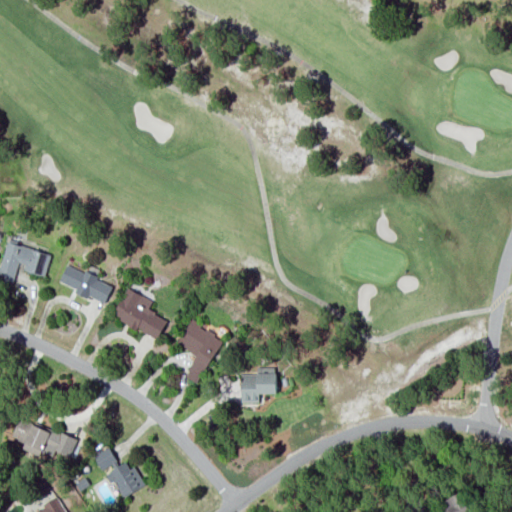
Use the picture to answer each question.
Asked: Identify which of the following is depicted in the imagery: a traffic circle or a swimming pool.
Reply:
swimming pool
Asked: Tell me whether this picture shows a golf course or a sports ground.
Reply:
golf course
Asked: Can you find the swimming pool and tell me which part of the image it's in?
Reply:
bottom left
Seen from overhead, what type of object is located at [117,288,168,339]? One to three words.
house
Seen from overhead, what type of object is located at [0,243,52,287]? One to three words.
house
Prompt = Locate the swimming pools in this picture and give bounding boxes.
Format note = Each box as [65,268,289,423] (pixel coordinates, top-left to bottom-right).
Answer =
[92,478,120,508]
